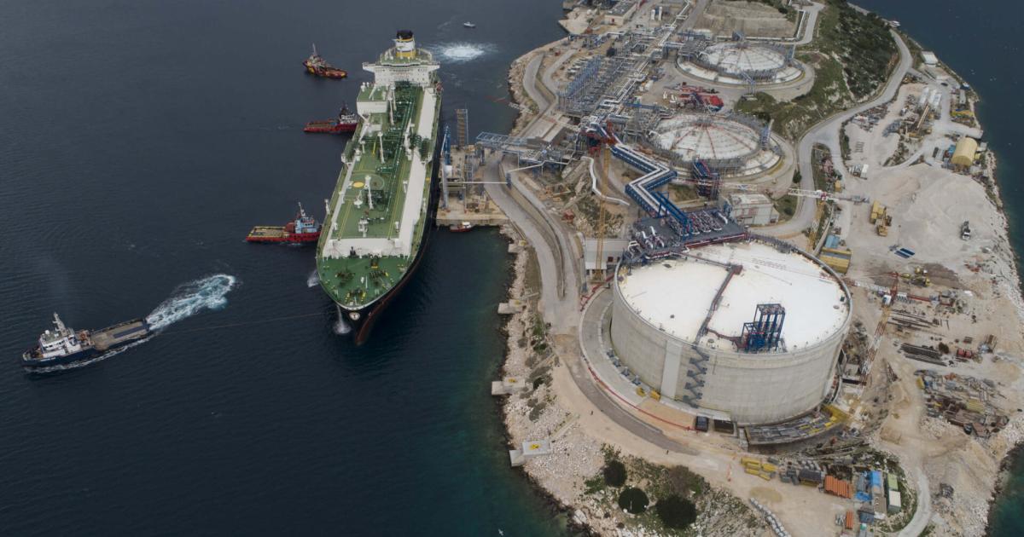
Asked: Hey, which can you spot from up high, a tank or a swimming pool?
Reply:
tank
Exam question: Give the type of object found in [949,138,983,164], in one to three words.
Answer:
building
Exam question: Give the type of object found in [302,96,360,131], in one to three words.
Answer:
boat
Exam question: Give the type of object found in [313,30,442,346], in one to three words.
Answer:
ship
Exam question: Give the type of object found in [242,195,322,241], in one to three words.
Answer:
boat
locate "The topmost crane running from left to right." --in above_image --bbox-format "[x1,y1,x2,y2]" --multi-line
[670,171,868,255]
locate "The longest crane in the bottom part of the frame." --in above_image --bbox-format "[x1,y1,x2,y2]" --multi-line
[735,253,968,392]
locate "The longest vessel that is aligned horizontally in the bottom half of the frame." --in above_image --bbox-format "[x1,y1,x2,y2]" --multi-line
[17,293,151,363]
